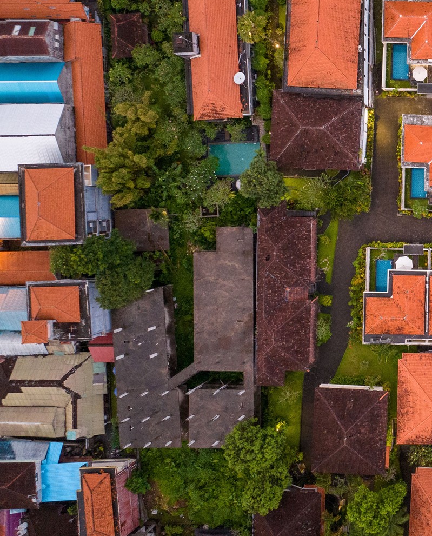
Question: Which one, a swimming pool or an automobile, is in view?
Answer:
swimming pool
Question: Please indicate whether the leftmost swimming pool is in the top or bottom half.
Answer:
top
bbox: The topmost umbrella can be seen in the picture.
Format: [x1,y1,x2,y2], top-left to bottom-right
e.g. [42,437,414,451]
[413,67,427,81]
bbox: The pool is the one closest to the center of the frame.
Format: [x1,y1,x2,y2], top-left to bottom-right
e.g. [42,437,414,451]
[206,140,264,180]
